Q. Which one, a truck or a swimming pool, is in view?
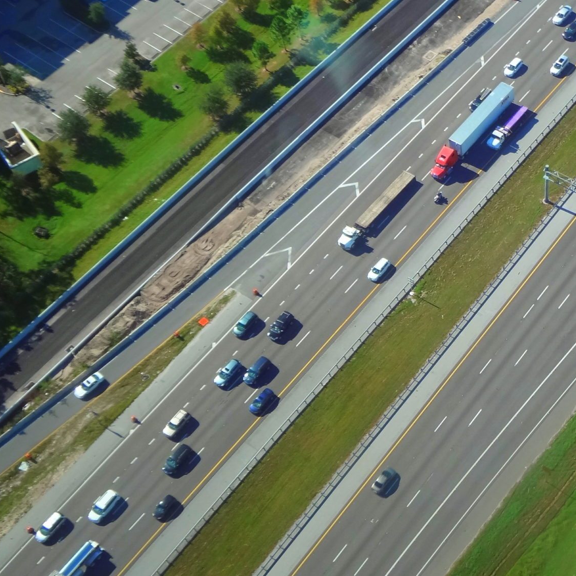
truck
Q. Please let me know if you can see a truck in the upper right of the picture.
Yes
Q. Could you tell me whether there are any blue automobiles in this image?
Yes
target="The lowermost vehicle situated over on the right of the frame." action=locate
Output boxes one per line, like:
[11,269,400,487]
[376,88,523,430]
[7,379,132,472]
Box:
[369,466,400,500]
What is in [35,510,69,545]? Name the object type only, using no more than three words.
car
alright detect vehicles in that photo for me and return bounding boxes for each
[232,310,261,339]
[429,79,516,182]
[87,487,123,524]
[265,307,299,343]
[554,5,575,25]
[550,54,571,76]
[151,493,182,525]
[213,359,242,389]
[162,408,193,440]
[241,354,273,387]
[336,156,428,251]
[48,529,108,576]
[468,80,495,111]
[161,442,195,476]
[71,375,108,399]
[249,388,277,416]
[35,510,69,545]
[369,466,400,500]
[563,20,576,41]
[486,105,532,153]
[504,58,525,78]
[367,256,393,283]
